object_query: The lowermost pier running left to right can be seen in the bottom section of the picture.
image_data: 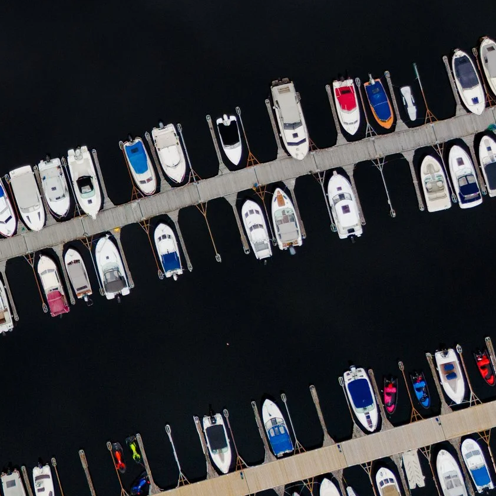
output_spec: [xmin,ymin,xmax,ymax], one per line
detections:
[146,399,496,496]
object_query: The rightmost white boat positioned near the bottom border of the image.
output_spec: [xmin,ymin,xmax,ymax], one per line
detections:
[464,439,492,496]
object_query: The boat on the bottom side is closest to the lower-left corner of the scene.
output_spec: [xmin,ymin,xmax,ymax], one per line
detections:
[2,463,27,496]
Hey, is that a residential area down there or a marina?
marina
